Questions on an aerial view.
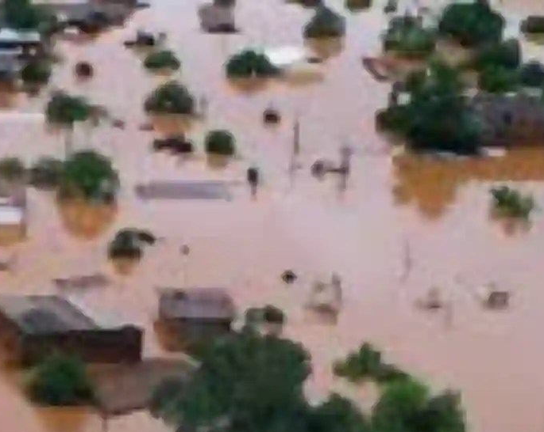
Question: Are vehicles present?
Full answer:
No, there is no vehicle in the image.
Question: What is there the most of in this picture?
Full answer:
The bulk of the photo consists of water.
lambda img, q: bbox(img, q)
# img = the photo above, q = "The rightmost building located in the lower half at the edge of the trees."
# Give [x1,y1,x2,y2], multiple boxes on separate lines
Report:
[148,288,236,343]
